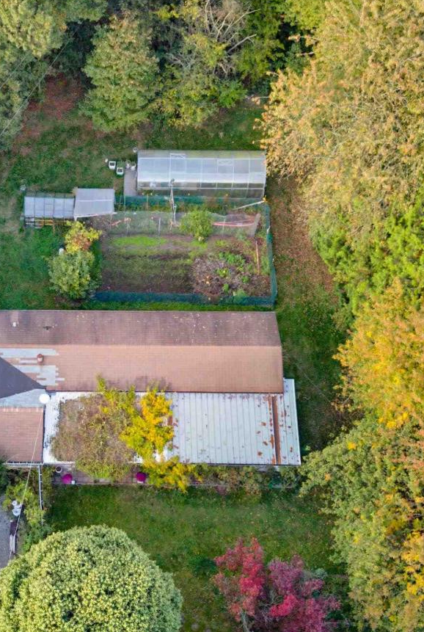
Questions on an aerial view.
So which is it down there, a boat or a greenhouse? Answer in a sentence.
The image shows a greenhouse.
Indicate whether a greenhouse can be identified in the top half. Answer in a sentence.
Yes, a greenhouse can be seen in the top half.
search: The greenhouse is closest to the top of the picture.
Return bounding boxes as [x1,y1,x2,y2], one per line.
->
[135,148,269,197]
